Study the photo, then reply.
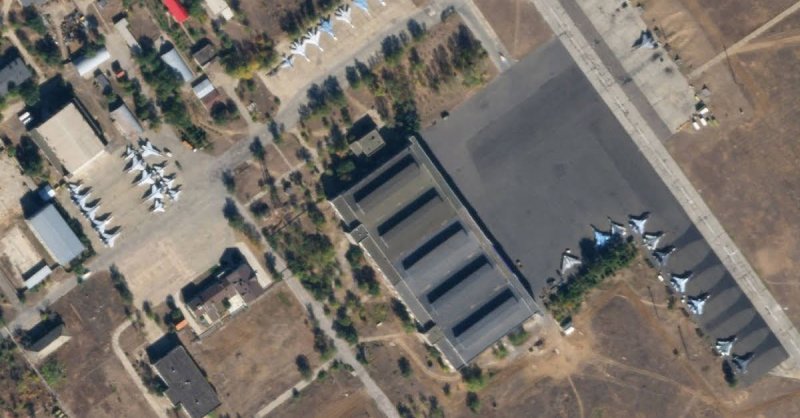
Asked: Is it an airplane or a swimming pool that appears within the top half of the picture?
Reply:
airplane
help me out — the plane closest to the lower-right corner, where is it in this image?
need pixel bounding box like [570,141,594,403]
[730,352,752,371]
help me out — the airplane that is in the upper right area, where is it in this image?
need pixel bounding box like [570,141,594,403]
[637,30,658,47]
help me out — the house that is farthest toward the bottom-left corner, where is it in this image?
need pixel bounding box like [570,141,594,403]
[27,324,63,354]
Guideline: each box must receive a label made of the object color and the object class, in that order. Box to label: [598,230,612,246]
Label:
blue airplane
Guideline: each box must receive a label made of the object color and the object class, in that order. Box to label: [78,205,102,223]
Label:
white airplane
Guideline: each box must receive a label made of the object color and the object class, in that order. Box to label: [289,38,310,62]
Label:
white airplane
